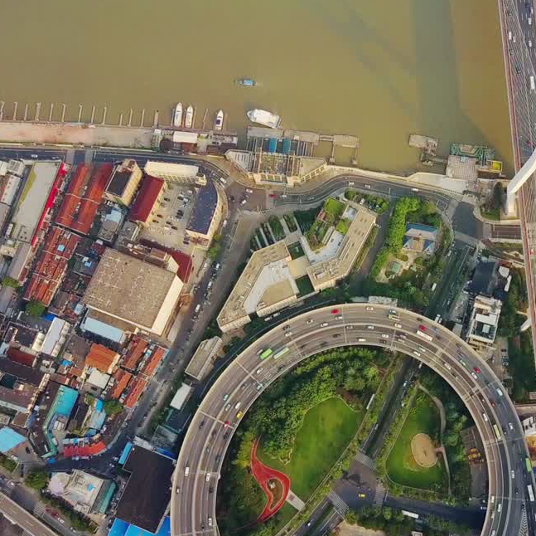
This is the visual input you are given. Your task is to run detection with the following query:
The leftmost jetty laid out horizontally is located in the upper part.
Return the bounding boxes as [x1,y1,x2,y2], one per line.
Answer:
[247,126,284,139]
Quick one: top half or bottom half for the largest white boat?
top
